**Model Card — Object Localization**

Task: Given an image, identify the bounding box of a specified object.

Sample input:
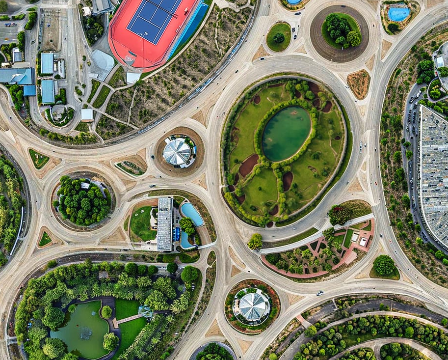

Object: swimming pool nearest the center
[181,202,205,227]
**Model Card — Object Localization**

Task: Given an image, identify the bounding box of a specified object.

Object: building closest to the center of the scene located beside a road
[162,138,191,167]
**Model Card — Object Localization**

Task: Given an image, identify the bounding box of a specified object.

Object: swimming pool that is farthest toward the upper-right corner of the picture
[389,7,410,21]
